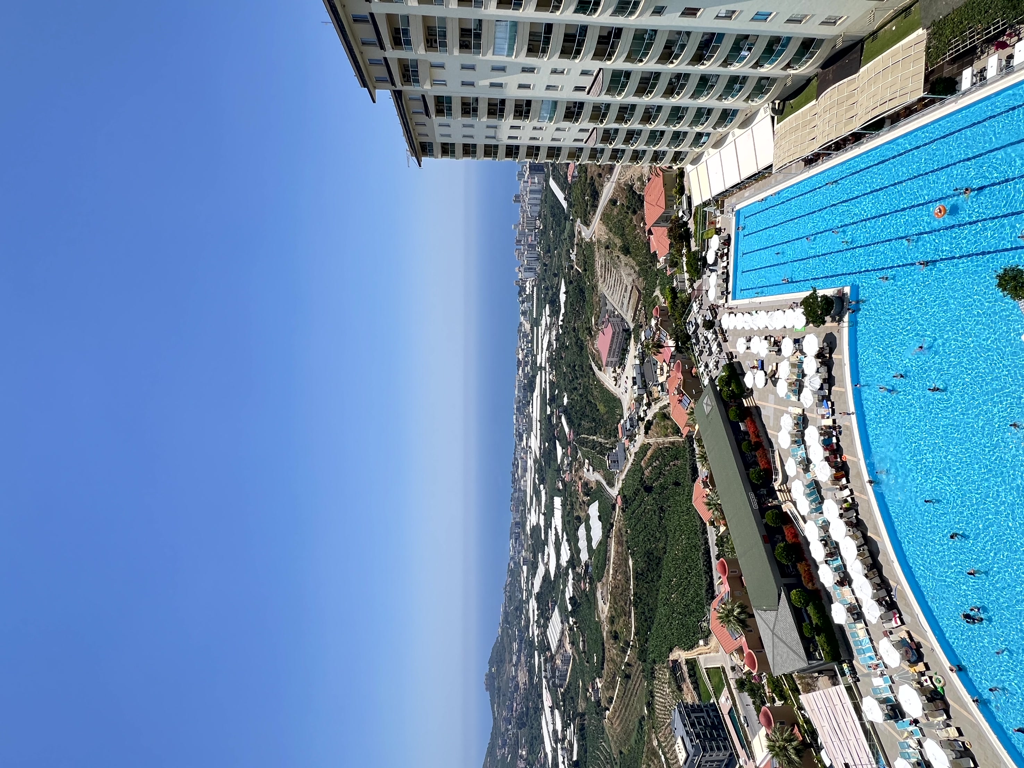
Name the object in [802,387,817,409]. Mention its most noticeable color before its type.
white umbrella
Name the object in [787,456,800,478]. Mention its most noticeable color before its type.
white umbrella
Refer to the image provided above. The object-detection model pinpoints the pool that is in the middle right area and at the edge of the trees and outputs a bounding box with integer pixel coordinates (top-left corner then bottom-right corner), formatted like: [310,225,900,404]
[733,79,1024,768]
